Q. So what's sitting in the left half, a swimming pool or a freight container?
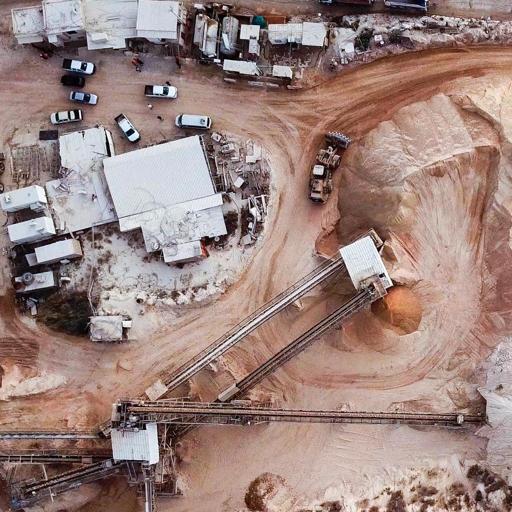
freight container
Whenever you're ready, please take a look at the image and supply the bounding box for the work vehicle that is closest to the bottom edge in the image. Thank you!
[307,132,352,202]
